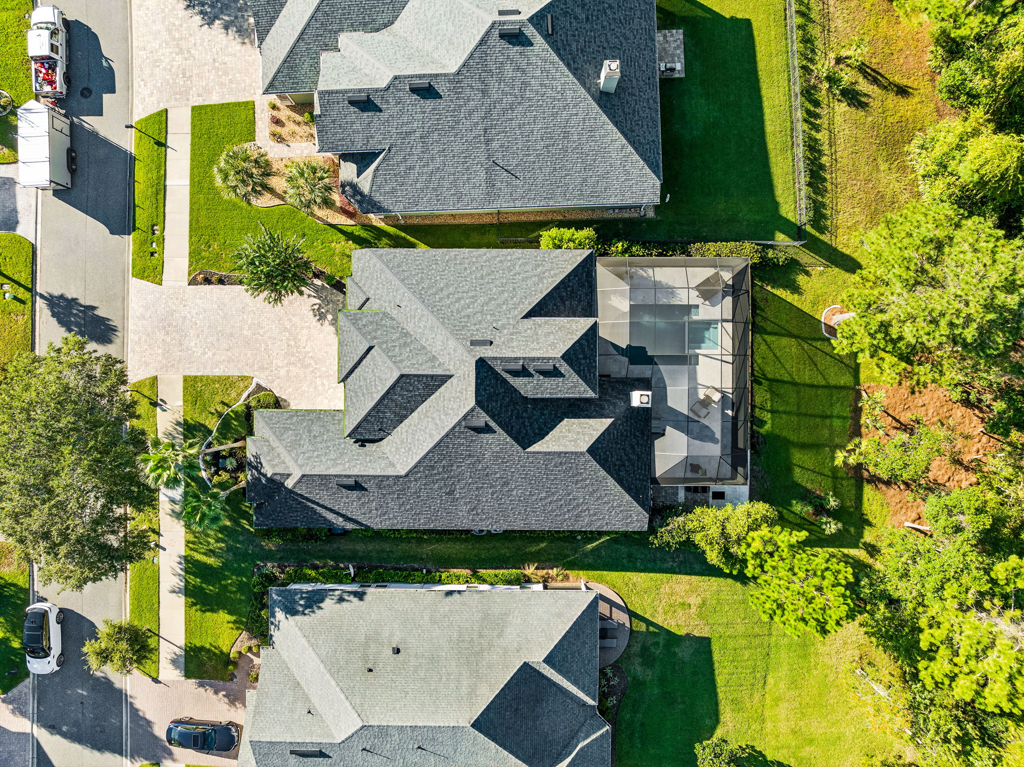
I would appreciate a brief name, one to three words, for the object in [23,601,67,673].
car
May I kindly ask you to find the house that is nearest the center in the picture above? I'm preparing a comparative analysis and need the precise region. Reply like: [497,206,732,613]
[245,247,653,530]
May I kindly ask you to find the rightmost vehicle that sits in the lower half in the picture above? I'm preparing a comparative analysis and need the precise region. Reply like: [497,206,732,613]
[163,714,243,756]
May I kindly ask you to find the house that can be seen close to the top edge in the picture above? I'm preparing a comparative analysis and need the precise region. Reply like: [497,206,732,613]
[250,0,663,224]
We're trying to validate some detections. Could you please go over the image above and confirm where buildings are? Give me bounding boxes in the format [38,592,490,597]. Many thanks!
[250,0,663,224]
[245,247,653,530]
[235,573,613,767]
